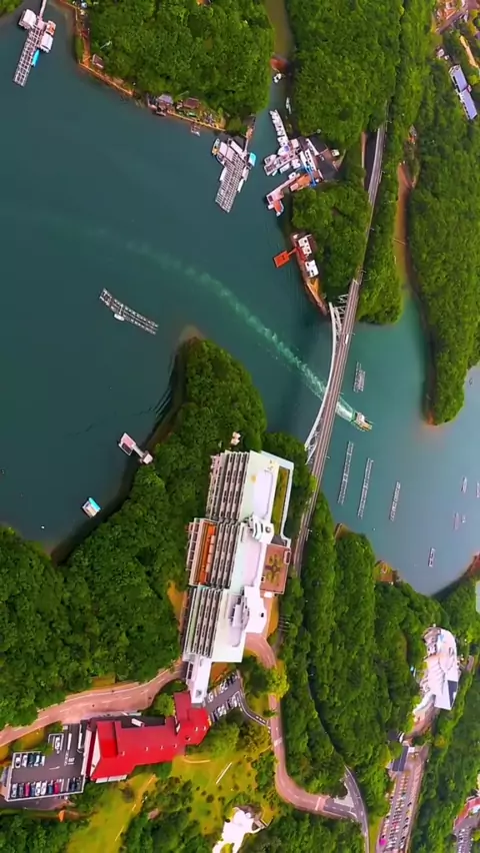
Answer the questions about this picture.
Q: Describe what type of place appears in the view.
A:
port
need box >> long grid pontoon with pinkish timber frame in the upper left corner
[13,18,45,90]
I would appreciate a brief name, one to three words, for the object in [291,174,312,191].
ship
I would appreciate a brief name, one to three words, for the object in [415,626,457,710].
building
